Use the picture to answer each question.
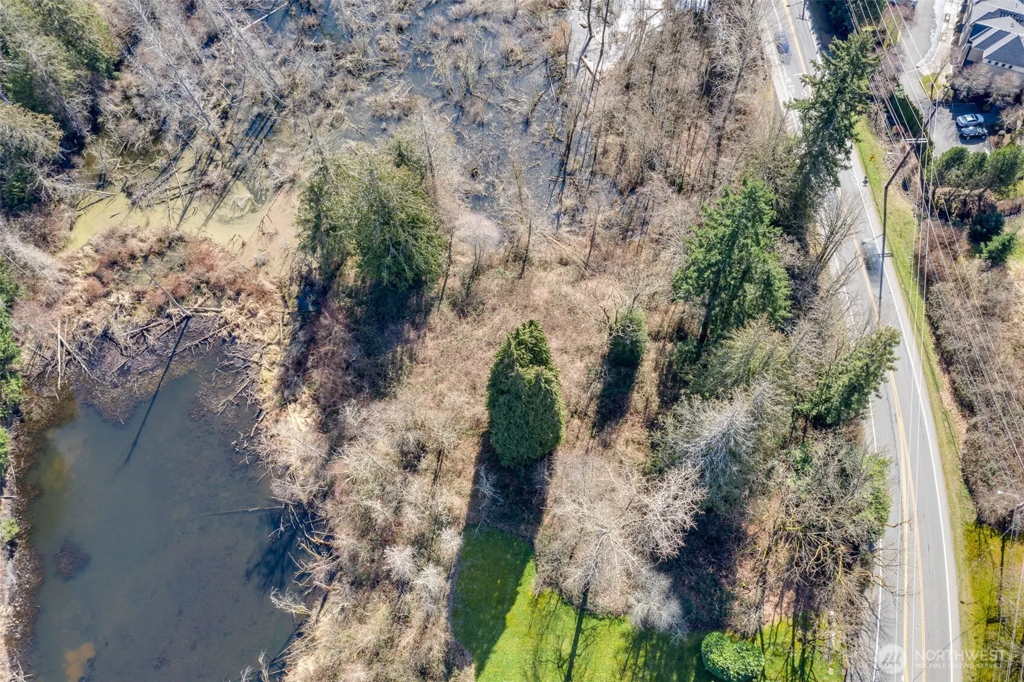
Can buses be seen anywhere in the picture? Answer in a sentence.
No, the photo shows no bus.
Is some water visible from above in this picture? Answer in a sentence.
Yes, water can be seen from above here.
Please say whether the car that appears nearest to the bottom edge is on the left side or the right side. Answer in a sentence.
The car that appears nearest to the bottom edge is on the right side of the image.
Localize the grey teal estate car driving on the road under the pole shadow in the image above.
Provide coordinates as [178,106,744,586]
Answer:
[865,253,887,281]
